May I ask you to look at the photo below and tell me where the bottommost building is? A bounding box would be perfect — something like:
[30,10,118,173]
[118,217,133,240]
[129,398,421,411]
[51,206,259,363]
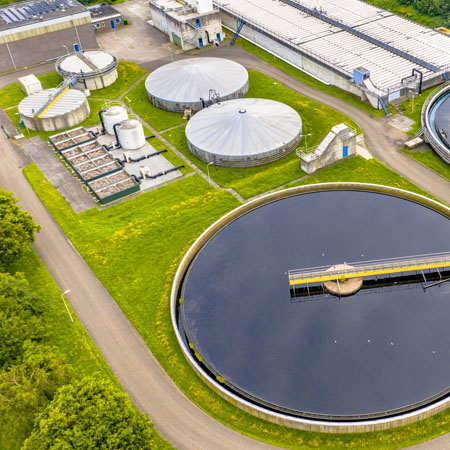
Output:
[301,125,357,173]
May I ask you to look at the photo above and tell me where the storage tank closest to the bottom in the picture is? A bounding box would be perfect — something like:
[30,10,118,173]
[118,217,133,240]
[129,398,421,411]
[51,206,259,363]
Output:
[171,182,450,432]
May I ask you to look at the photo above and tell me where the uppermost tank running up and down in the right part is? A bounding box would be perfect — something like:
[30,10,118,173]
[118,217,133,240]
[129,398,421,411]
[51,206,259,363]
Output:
[420,75,450,178]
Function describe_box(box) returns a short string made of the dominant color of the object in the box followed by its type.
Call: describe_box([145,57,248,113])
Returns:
white storage tank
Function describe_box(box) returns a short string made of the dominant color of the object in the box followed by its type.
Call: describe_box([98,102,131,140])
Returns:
white silo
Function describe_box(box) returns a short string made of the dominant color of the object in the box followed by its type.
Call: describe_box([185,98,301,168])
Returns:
white storage tank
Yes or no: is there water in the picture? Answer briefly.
Yes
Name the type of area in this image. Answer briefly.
industrial area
